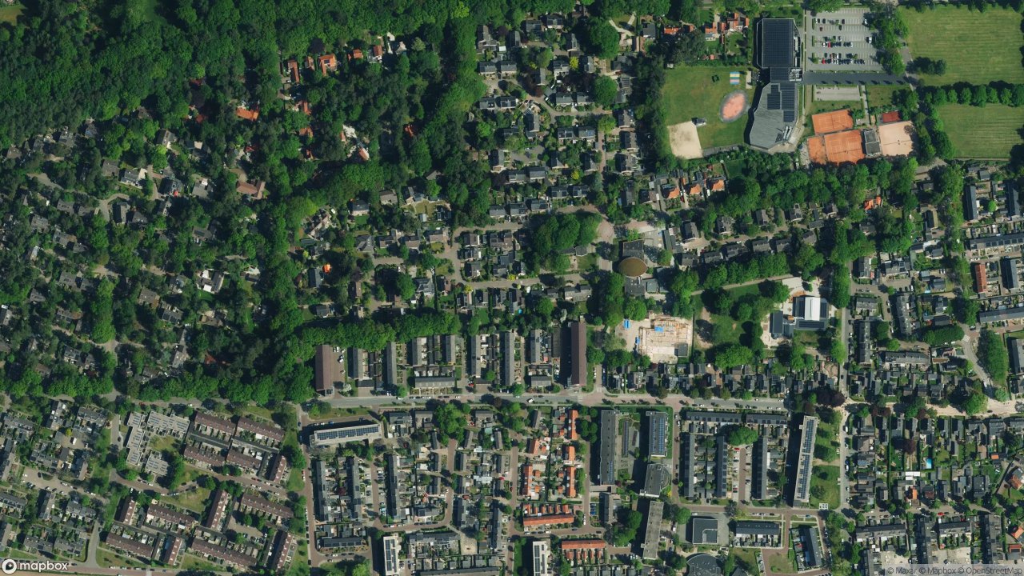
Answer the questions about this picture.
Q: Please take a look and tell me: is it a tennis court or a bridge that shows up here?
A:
tennis court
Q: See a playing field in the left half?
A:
No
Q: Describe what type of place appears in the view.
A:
residential area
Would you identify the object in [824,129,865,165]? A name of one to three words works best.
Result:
tennis court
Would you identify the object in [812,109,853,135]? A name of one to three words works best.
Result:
tennis court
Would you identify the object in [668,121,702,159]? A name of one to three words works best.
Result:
sports field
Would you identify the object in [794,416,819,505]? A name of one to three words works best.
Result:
building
